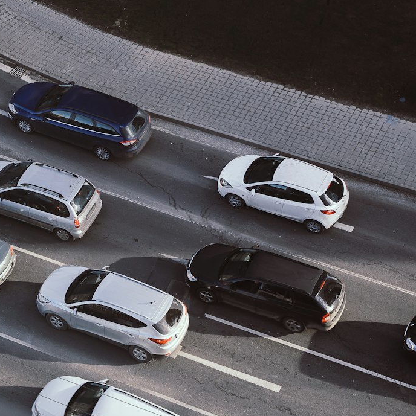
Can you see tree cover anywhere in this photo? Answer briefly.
No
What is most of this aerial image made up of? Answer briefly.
paved ground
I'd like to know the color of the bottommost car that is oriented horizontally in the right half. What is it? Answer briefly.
black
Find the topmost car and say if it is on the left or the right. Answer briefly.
left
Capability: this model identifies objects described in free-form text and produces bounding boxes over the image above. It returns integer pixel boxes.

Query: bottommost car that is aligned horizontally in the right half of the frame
[189,240,353,333]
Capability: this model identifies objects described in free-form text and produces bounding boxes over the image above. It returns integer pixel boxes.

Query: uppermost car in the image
[9,76,155,161]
